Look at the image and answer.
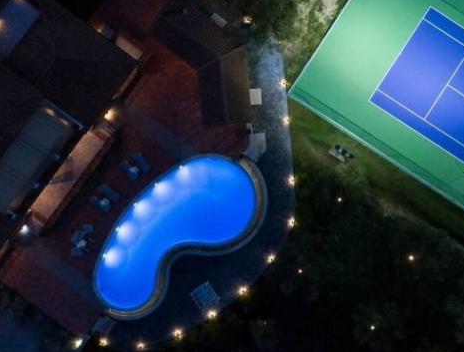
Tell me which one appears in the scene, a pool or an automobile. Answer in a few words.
pool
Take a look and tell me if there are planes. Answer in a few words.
No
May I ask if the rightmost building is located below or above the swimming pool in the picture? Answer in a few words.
above it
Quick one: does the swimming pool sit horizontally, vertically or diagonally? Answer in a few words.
diagonally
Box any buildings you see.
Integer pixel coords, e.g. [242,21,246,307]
[0,0,140,253]
[150,0,262,124]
